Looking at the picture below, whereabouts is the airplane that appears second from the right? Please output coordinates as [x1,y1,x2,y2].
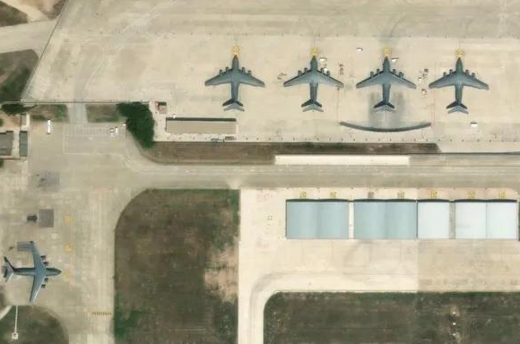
[356,56,416,112]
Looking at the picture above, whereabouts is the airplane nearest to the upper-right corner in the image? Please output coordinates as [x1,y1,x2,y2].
[429,57,489,113]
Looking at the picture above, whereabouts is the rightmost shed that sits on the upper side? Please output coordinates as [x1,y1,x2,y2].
[166,121,236,133]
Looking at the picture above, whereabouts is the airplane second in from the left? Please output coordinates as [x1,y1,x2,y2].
[205,55,264,111]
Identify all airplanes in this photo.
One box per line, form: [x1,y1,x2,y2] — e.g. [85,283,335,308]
[356,56,416,112]
[6,242,62,301]
[205,55,264,111]
[429,57,489,113]
[284,56,343,112]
